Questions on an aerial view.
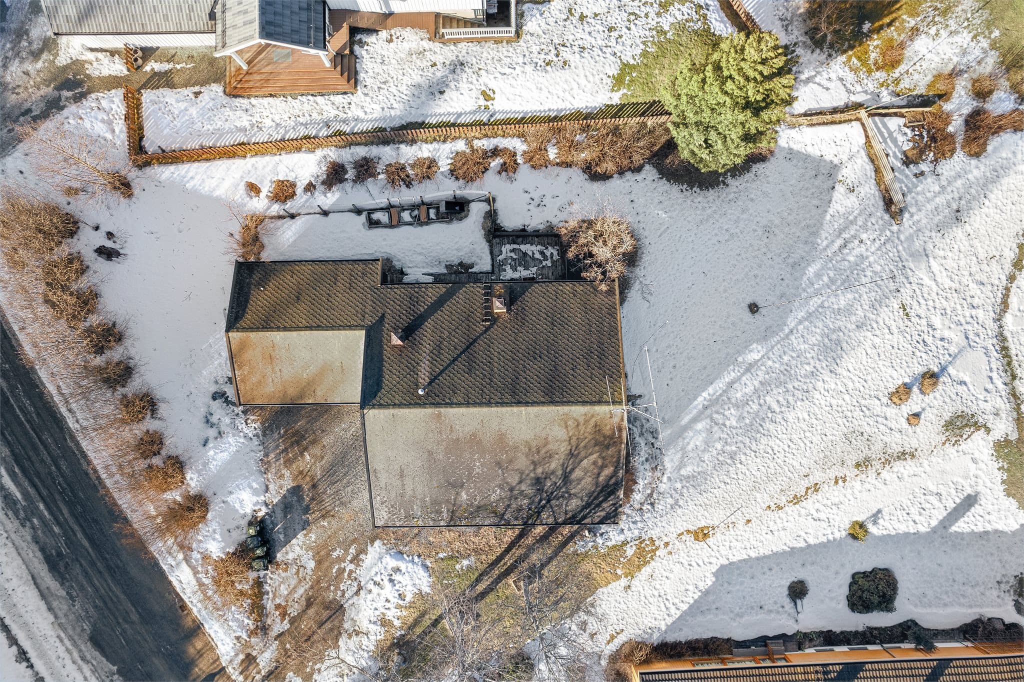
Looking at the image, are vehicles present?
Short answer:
No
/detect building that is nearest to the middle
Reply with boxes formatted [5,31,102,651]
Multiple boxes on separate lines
[223,258,629,529]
